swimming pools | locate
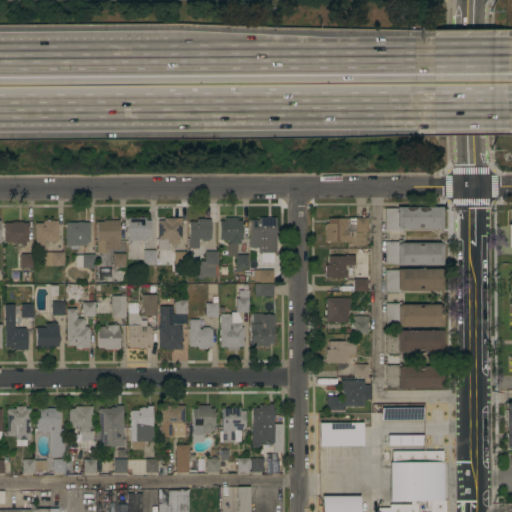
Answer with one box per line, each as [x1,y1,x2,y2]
[194,437,214,453]
[36,288,48,311]
[38,435,50,456]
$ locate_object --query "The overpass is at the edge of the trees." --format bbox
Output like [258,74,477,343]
[436,30,510,135]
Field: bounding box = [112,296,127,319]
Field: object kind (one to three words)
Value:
building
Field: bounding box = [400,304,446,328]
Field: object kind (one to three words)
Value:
building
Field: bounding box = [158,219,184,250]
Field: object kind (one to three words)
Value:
house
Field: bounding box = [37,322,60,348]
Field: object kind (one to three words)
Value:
house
